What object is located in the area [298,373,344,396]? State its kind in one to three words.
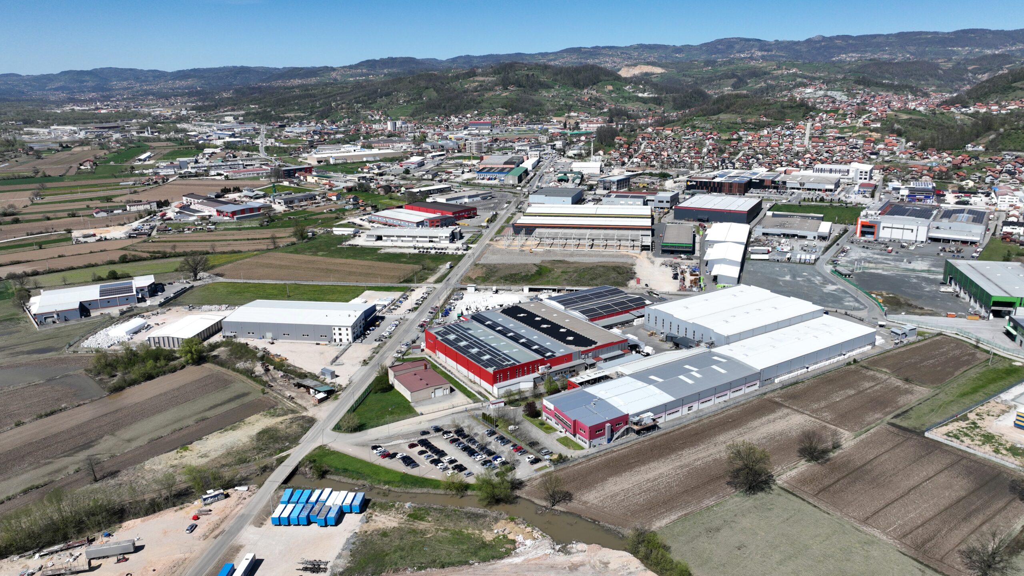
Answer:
shed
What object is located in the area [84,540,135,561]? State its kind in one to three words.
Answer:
trailer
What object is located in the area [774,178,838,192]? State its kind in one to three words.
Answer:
building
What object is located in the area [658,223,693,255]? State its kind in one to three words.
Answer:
building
